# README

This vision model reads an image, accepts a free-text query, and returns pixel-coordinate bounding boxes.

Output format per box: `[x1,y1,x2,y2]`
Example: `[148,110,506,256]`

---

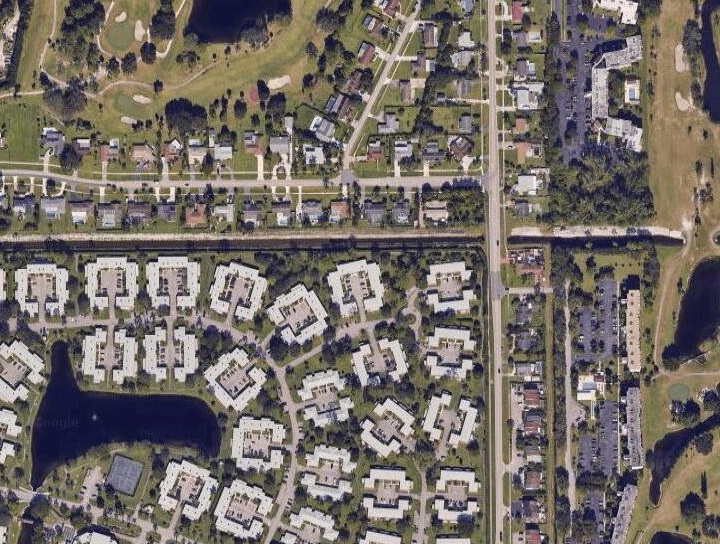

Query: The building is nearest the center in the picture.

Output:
[327,260,384,316]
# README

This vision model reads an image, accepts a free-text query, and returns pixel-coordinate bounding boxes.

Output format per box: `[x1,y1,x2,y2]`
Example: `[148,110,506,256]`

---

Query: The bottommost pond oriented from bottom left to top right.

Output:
[650,416,720,506]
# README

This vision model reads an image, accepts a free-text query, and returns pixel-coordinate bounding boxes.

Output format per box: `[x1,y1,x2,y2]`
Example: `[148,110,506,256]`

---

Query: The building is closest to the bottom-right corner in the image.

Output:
[614,486,640,544]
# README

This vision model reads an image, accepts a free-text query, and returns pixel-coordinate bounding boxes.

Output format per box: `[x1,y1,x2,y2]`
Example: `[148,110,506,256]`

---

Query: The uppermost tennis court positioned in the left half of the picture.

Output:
[106,455,144,495]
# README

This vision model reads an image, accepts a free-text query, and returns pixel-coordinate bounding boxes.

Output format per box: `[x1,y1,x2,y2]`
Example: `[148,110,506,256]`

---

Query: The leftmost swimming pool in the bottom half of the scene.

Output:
[578,376,606,399]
